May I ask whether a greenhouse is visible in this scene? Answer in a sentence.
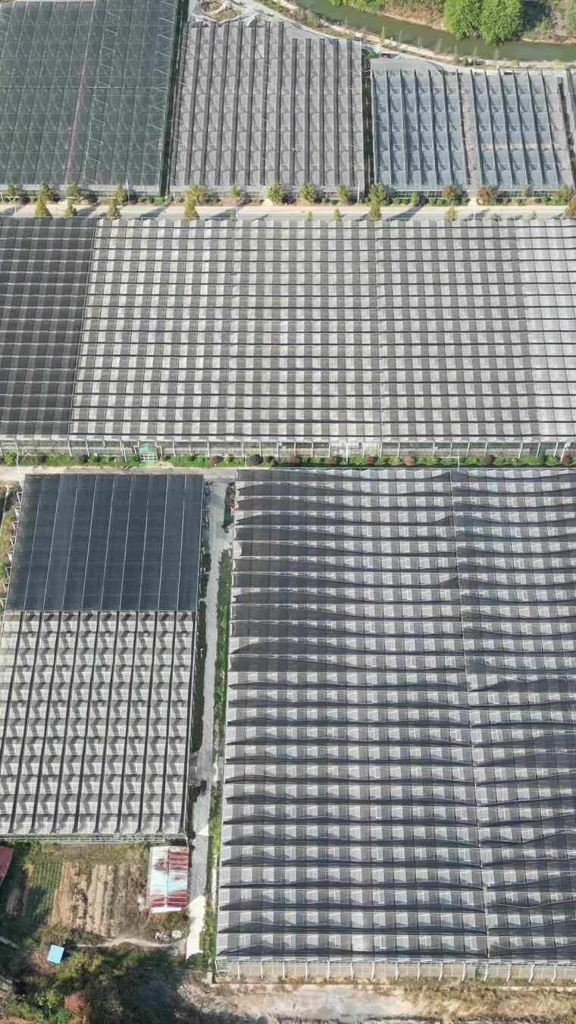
Yes, I can see a greenhouse in this picture.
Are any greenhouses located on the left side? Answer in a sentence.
Yes, looking on the left side, one can make out a greenhouse.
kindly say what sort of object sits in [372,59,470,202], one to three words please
greenhouse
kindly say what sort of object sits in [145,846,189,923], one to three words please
shed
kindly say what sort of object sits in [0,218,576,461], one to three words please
greenhouse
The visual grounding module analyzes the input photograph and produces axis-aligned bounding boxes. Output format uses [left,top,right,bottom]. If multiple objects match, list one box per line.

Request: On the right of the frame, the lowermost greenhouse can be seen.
[215,465,576,983]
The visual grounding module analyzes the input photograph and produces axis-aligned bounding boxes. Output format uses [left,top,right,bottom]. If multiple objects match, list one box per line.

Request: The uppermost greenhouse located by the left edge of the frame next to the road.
[0,0,179,199]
